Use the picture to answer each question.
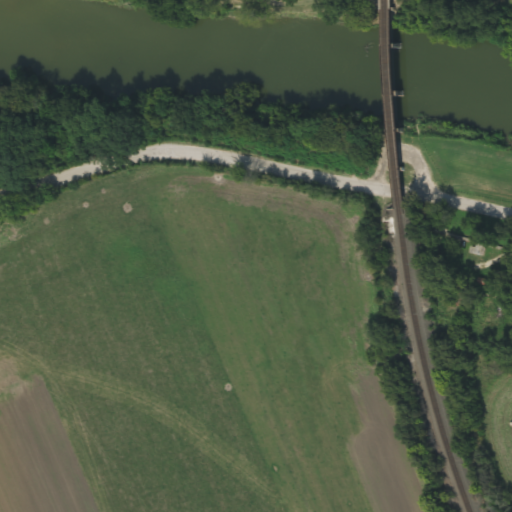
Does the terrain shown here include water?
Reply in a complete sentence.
Yes, there is water in the image.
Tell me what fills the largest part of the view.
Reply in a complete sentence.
The scene is dominated by grass.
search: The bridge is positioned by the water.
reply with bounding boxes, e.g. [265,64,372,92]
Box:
[376,0,408,212]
